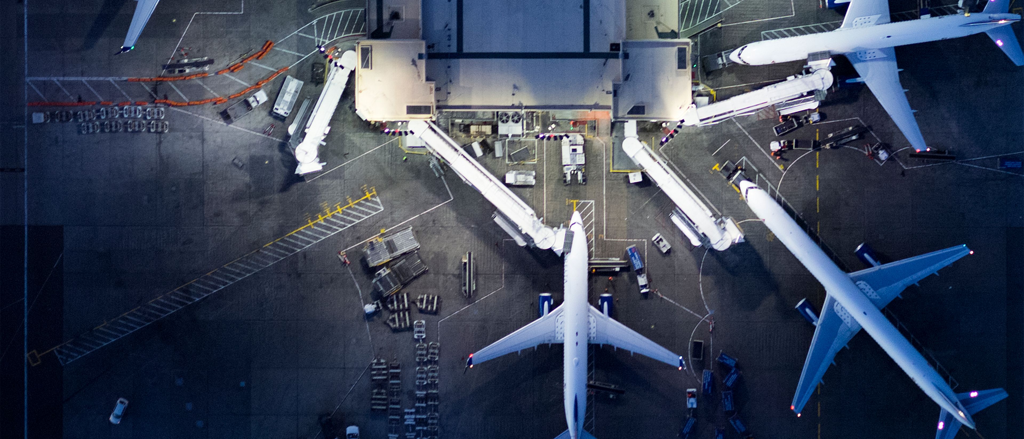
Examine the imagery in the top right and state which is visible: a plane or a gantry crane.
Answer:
plane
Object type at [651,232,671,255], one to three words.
vehicle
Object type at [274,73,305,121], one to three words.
truck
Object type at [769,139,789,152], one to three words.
vehicle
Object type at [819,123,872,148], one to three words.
work vehicle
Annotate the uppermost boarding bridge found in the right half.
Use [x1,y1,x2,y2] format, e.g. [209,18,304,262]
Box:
[681,51,835,127]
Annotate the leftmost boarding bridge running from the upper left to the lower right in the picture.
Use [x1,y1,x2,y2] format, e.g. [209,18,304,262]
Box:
[408,120,574,257]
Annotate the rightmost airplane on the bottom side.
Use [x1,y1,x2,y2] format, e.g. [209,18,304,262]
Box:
[739,180,1011,439]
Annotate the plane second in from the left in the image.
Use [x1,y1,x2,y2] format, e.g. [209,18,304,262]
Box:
[463,211,689,439]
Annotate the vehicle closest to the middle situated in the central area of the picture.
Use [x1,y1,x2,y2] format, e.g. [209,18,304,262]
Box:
[505,169,536,186]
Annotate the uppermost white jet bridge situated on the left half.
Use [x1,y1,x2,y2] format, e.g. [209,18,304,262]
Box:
[288,49,356,174]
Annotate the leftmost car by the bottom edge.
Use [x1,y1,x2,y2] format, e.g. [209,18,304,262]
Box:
[109,396,130,426]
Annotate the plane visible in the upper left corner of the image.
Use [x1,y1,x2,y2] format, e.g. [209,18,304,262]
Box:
[110,0,159,56]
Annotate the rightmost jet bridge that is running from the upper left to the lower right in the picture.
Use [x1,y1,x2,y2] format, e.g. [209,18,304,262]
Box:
[621,121,744,251]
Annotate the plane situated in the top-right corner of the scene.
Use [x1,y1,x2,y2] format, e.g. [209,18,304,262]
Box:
[730,0,1024,153]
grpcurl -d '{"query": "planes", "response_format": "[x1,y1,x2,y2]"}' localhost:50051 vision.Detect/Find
[463,211,689,439]
[110,0,159,56]
[730,0,1024,153]
[739,180,1011,439]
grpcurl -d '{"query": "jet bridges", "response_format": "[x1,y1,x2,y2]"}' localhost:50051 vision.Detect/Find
[408,120,574,257]
[621,121,744,251]
[288,49,356,174]
[681,51,835,127]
